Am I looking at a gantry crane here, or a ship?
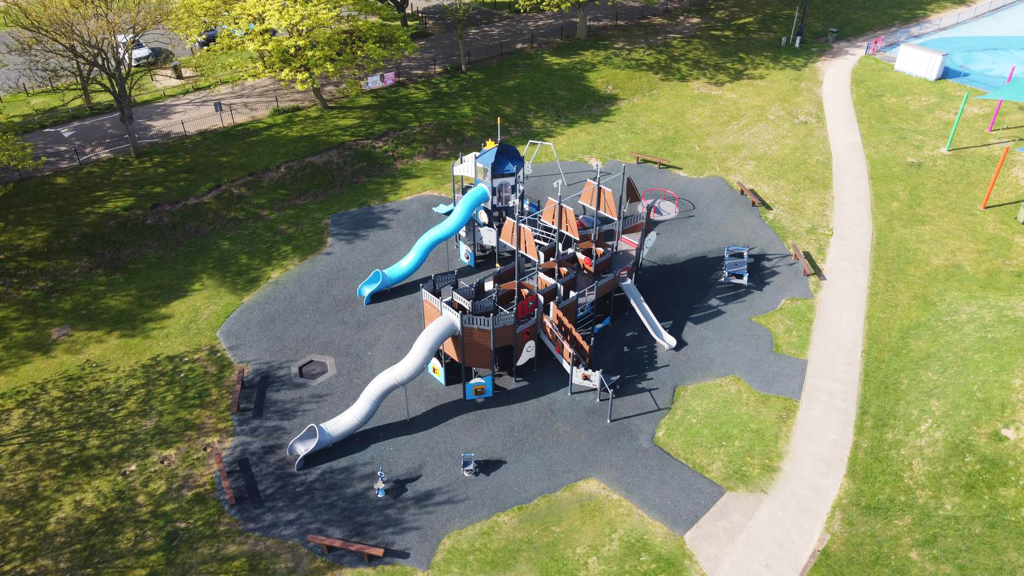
ship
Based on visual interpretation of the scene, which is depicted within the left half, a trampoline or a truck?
trampoline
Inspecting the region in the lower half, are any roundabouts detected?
No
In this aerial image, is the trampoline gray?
Yes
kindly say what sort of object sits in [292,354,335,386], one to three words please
trampoline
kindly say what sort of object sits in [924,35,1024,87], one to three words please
swimming pool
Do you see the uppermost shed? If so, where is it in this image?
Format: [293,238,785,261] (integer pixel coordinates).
[894,39,954,80]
